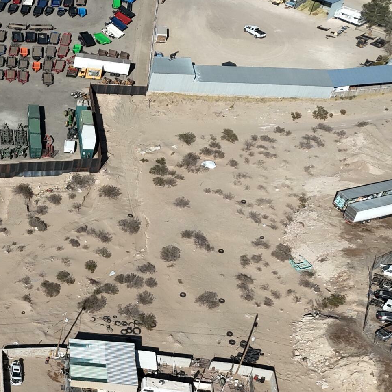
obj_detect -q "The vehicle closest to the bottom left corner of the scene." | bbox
[10,362,24,386]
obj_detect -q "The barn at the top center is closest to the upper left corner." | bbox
[148,56,199,97]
